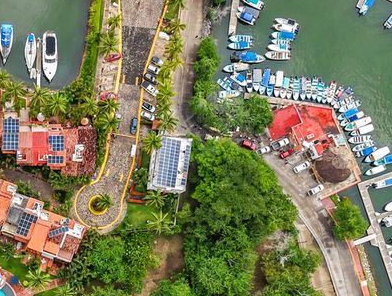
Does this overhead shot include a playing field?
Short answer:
No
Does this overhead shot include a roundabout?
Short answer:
Yes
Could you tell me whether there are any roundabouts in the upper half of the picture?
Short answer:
No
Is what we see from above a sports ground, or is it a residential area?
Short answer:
residential area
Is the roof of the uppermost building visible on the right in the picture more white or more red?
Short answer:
red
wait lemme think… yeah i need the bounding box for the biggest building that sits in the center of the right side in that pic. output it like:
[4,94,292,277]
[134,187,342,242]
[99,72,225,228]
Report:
[262,103,344,162]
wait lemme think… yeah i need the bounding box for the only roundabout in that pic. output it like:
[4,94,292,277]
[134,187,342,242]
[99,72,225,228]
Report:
[71,184,123,237]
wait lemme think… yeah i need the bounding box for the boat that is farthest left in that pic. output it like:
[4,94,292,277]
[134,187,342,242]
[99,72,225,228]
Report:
[0,23,12,62]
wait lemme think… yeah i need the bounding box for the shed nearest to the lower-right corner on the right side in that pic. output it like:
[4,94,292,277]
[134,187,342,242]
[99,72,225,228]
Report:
[312,153,351,181]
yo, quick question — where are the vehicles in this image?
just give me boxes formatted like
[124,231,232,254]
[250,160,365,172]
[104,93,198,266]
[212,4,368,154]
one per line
[294,161,309,173]
[307,184,324,196]
[130,144,138,157]
[241,139,256,151]
[107,52,121,61]
[279,148,294,159]
[147,63,160,75]
[271,138,289,150]
[256,145,271,155]
[141,110,155,121]
[142,101,155,113]
[151,55,164,67]
[142,80,158,96]
[103,93,116,99]
[130,118,138,133]
[143,71,157,84]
